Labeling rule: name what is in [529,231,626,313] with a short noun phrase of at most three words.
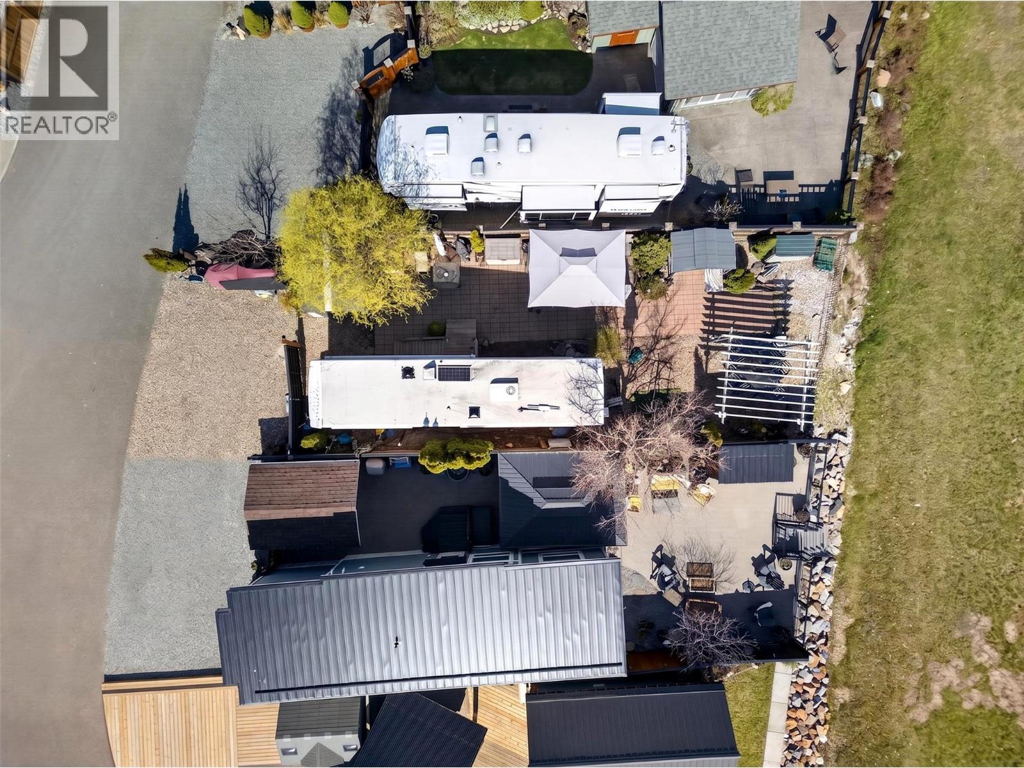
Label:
gazebo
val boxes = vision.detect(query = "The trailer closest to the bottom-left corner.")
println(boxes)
[310,354,604,427]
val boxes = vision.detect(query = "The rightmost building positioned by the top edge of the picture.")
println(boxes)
[648,0,797,115]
